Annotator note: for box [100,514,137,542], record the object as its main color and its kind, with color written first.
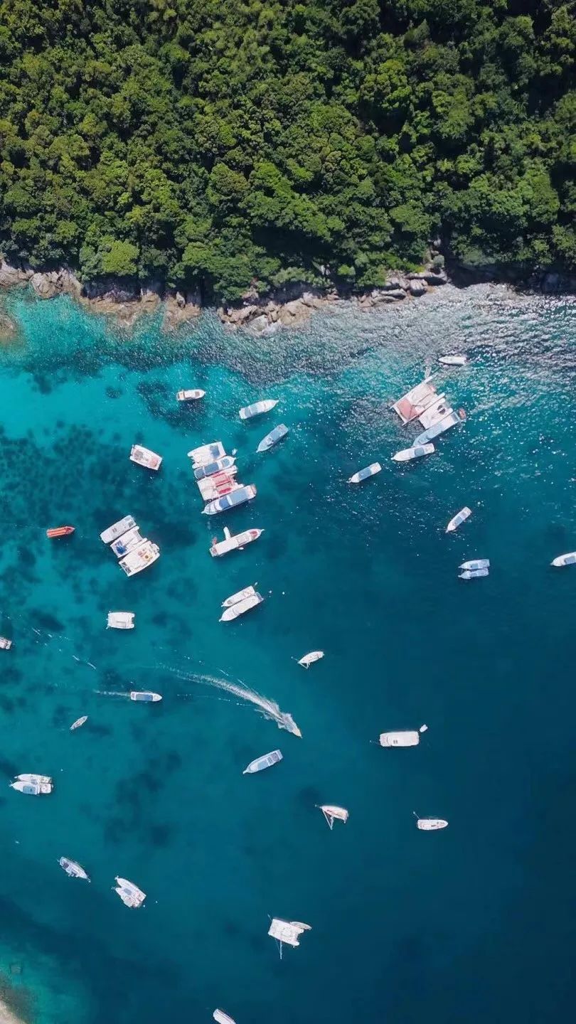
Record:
white boat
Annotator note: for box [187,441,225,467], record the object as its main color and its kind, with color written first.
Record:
white boat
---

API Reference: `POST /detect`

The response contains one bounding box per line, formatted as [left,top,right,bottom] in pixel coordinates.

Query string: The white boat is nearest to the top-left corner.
[176,388,205,401]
